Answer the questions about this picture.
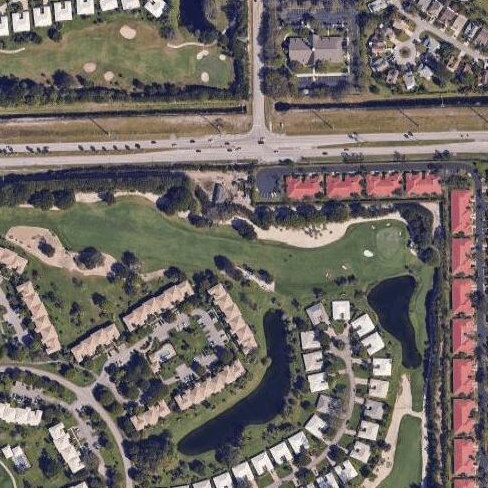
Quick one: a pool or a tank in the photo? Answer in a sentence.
The one in the frame is a pool.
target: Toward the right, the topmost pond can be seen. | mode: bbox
[369,276,421,368]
